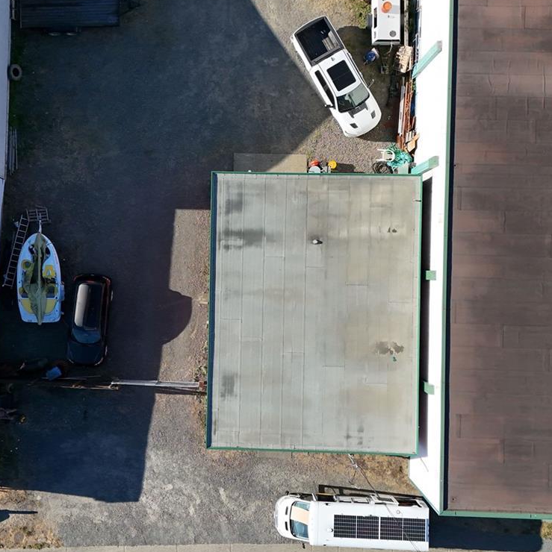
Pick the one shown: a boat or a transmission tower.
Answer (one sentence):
The one in the frame is a boat.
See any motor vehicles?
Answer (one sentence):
Yes, you can see a motor vehicle in this photo.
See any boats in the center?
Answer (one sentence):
No, no boat is visible in the center.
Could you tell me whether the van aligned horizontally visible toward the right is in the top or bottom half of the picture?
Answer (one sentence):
You can find the van aligned horizontally visible toward the right in the bottom half.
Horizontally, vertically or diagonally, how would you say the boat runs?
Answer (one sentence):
In this picture, the boat lies vertically.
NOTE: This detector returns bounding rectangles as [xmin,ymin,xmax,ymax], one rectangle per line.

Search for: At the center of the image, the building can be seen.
[207,173,421,455]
